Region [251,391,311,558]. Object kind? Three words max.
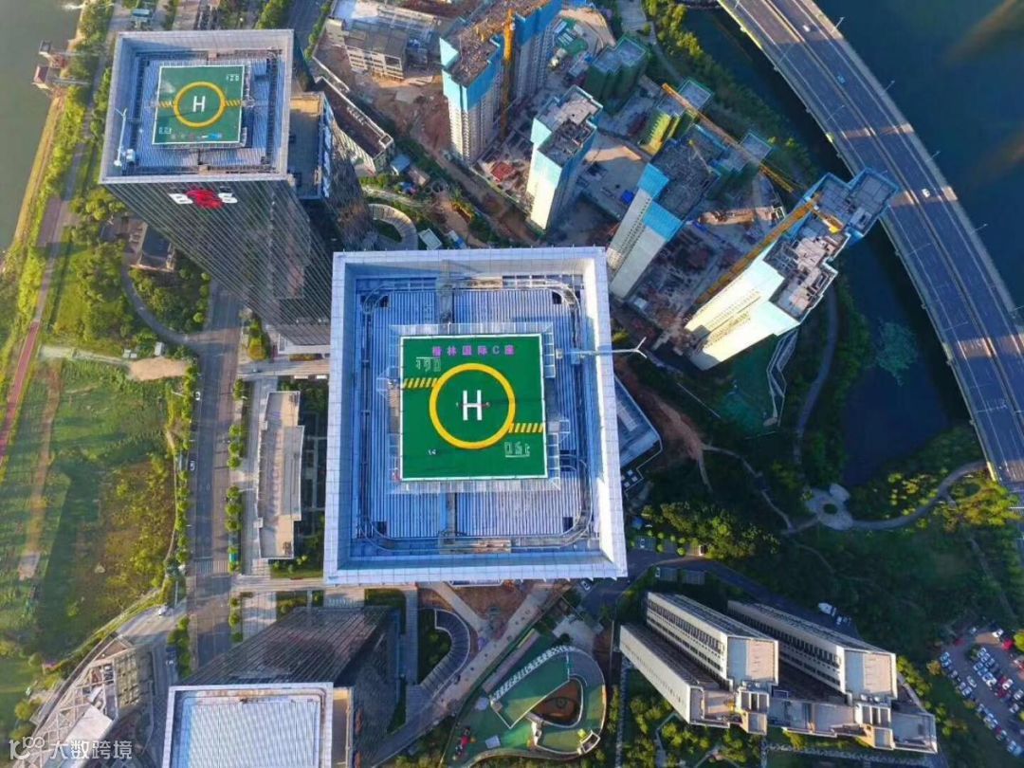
building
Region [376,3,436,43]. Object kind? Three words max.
building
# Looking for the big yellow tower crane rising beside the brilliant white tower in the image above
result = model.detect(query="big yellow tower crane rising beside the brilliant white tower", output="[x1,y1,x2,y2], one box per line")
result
[694,177,851,304]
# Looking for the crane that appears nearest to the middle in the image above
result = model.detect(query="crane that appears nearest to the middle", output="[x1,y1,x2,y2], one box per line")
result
[561,338,646,367]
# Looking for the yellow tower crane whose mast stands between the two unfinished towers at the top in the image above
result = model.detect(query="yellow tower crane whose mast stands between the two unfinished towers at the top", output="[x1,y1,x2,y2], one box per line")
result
[472,4,520,136]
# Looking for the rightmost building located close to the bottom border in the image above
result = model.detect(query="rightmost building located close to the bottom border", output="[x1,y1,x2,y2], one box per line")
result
[623,593,940,754]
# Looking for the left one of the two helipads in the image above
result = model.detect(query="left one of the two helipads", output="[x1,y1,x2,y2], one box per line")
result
[145,58,249,149]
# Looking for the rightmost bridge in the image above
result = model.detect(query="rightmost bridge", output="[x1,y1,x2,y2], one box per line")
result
[715,0,1024,565]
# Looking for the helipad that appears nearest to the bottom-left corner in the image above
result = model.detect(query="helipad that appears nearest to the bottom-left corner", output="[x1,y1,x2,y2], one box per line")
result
[377,320,569,494]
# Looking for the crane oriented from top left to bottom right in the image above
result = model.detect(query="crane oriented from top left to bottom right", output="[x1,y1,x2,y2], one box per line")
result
[663,85,756,169]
